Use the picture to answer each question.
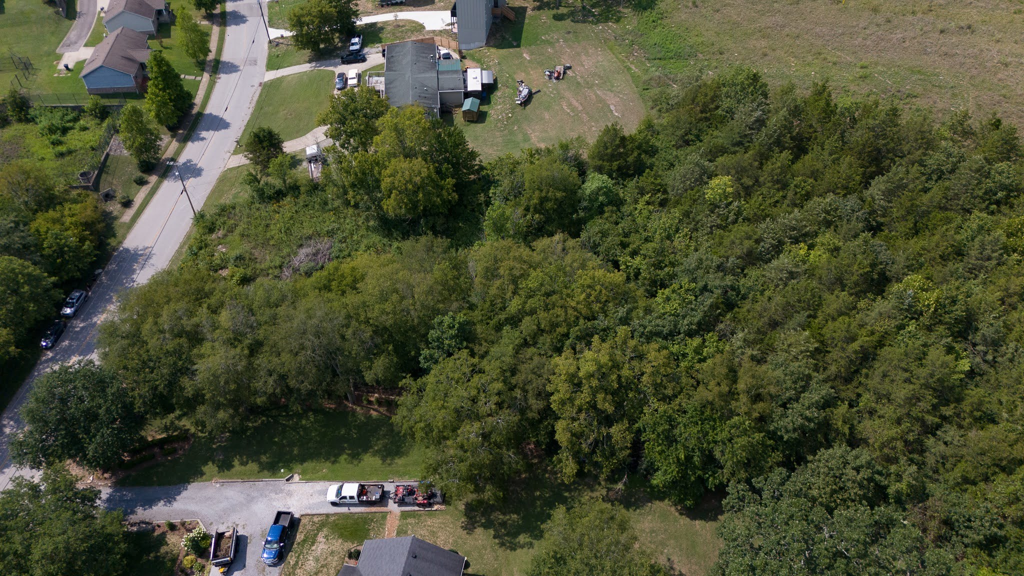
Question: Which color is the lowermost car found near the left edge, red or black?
black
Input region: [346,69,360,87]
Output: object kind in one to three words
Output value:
car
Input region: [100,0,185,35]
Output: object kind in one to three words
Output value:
building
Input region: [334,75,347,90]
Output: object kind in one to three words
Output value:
vehicle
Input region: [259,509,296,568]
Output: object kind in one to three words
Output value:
truck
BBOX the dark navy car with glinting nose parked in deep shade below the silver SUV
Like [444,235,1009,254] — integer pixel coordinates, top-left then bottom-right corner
[33,318,69,351]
